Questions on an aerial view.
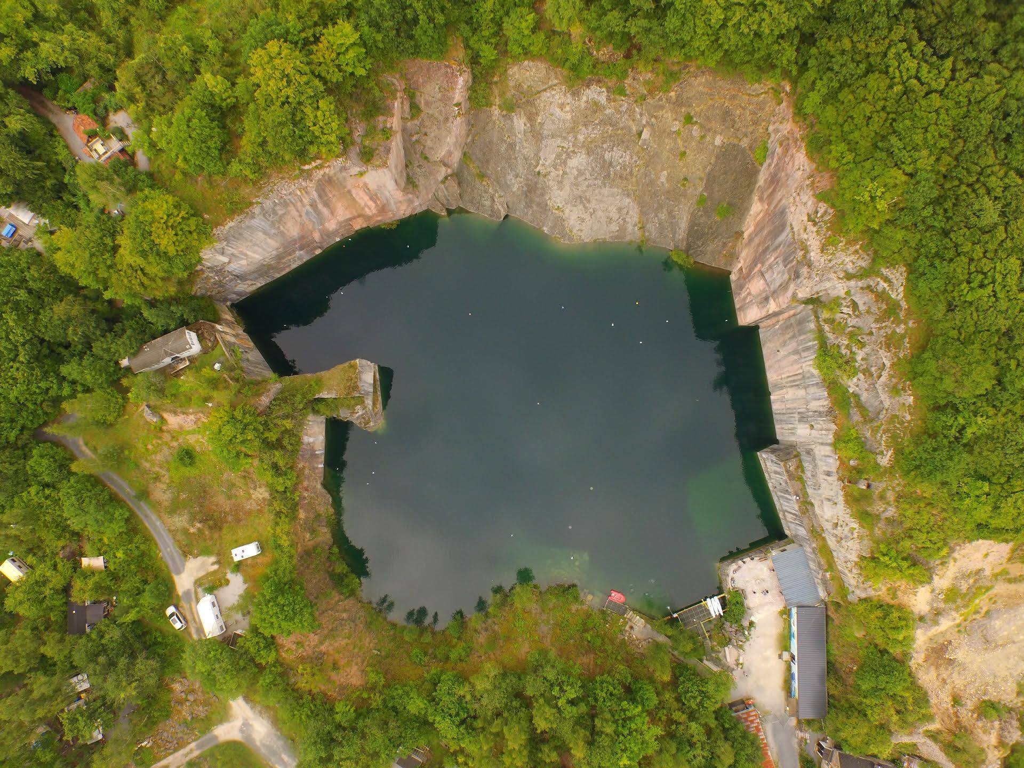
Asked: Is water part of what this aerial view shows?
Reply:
Yes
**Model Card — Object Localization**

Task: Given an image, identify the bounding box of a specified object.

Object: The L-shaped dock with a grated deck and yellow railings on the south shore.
[661,592,728,650]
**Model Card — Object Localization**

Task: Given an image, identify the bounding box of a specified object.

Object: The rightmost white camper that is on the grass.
[229,544,260,566]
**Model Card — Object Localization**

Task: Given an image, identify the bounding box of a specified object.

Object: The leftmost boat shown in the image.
[609,590,626,602]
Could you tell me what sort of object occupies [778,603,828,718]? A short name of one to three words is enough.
building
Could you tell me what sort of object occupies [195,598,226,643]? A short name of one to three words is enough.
camper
